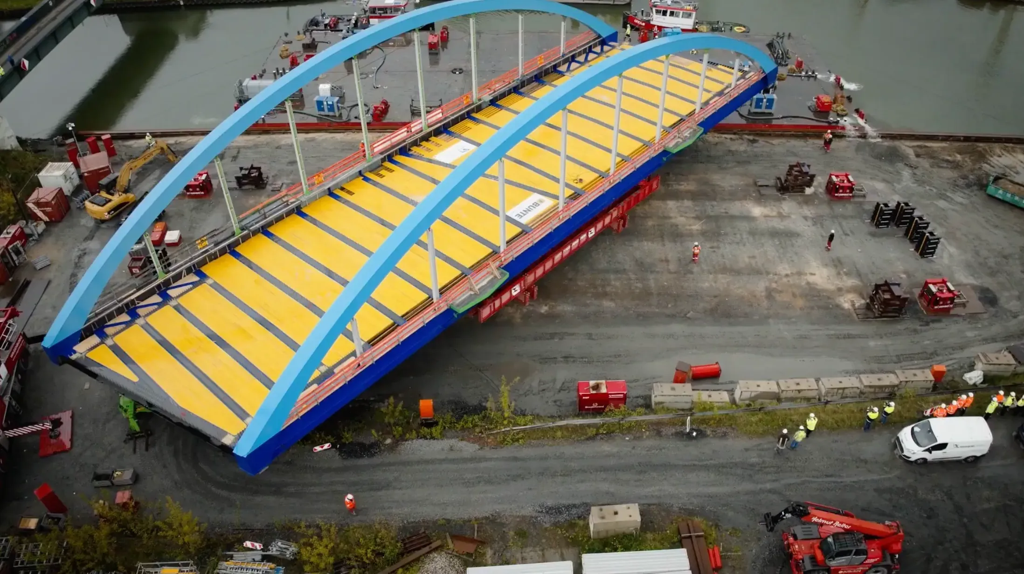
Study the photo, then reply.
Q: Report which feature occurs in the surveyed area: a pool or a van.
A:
van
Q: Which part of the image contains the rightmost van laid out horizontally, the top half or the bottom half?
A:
bottom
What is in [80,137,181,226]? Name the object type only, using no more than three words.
work vehicle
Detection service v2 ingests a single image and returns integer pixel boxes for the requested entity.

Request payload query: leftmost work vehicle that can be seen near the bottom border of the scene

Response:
[762,502,916,574]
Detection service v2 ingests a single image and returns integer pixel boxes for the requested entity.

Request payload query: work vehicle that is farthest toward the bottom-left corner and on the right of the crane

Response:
[104,391,155,458]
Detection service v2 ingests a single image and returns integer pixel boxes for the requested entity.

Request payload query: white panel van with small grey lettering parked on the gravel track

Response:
[893,418,996,465]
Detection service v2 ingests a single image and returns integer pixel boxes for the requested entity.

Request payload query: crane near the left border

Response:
[0,289,63,451]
